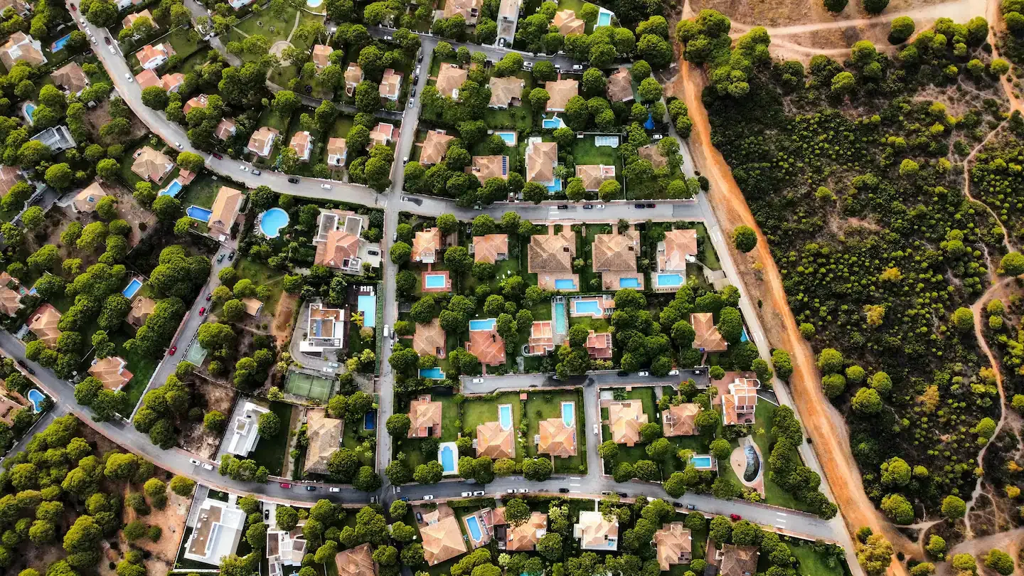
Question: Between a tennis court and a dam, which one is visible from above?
tennis court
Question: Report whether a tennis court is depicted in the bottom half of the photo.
Yes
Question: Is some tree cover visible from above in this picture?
Yes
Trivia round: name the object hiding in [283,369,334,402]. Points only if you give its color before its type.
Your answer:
green tennis court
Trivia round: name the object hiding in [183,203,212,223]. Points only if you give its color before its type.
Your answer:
blue swimming pool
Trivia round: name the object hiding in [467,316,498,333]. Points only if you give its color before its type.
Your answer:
blue swimming pool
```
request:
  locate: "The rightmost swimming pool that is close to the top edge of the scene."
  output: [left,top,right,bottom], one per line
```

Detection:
[592,7,615,29]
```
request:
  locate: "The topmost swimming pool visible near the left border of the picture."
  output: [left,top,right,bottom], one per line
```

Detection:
[47,31,69,56]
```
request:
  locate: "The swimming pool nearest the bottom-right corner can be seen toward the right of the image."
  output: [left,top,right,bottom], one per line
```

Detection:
[735,435,771,490]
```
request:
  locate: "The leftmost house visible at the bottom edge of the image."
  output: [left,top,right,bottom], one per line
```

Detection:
[185,494,245,566]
